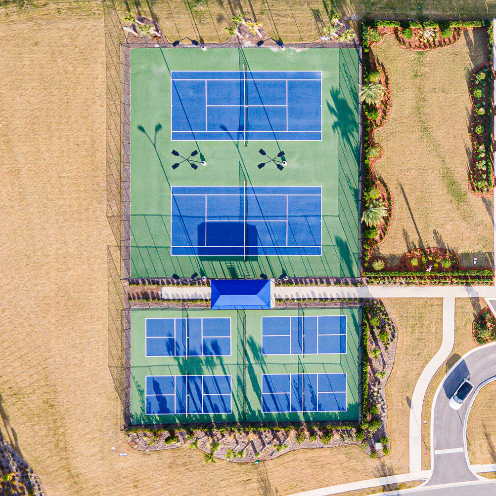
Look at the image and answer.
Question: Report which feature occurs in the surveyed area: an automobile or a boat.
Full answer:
The one in the frame is an automobile.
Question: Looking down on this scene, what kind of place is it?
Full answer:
The picture captures a sports ground.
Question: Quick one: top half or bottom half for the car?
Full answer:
Seen from above, the car lies in the bottom half of the view.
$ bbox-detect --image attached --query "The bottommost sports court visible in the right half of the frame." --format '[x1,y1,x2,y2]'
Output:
[245,366,361,424]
